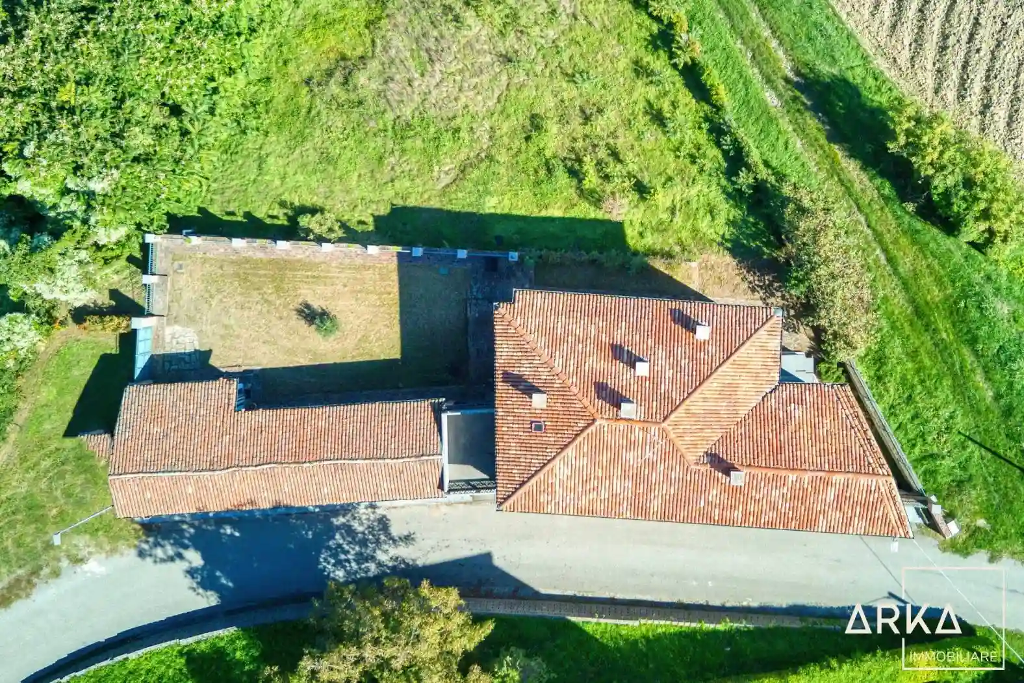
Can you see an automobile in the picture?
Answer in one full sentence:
No, the photo shows no automobile.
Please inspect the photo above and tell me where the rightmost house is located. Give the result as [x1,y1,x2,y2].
[493,289,913,539]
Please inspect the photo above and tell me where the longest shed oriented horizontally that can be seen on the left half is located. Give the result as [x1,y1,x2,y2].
[108,379,445,519]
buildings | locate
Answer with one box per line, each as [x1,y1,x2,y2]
[493,289,913,539]
[108,379,445,519]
